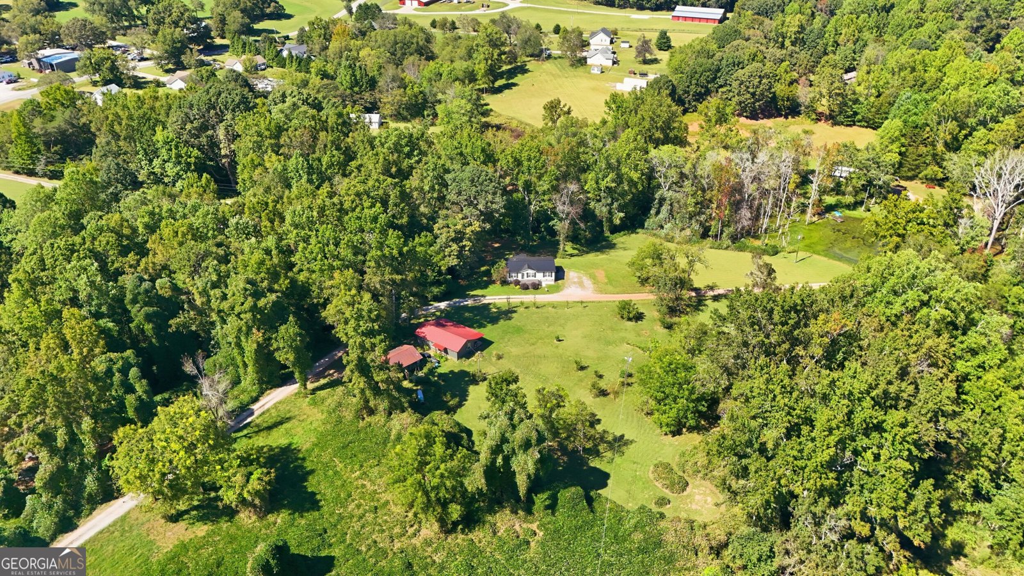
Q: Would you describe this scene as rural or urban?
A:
rural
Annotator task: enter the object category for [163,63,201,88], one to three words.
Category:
house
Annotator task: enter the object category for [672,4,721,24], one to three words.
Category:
barn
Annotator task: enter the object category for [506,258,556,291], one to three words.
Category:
house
